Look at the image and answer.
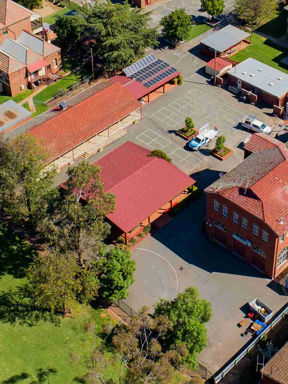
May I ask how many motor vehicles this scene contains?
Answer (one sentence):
The count of motor vehicles comes to 2.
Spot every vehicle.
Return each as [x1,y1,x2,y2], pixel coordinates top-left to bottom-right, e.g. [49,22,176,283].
[242,115,272,135]
[191,127,216,148]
